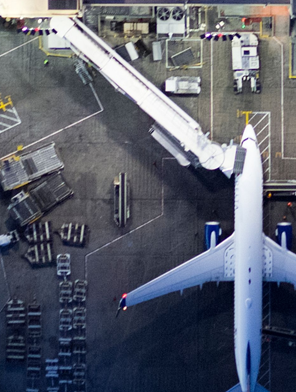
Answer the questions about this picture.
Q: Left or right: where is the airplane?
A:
right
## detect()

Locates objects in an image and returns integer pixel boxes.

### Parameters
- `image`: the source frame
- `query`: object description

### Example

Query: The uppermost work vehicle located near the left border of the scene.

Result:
[0,142,64,192]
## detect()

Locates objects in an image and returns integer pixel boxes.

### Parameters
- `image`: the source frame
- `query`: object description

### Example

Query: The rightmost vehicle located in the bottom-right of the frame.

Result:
[262,323,296,345]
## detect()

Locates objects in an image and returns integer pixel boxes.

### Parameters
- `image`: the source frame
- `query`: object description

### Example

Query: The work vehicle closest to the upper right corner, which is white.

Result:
[231,33,260,92]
